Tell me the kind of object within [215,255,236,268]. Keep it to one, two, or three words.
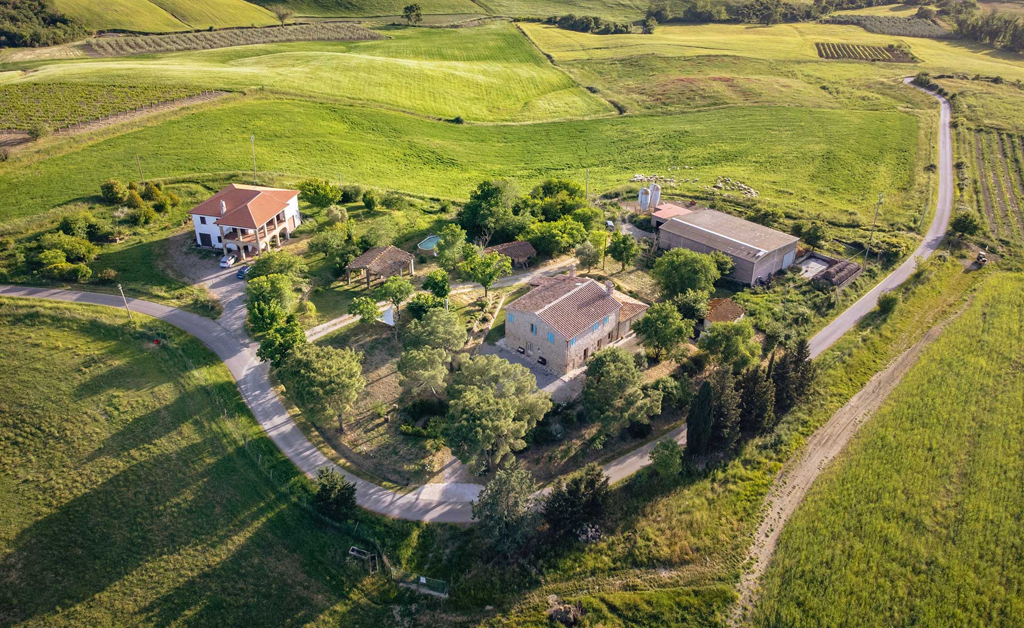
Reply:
vehicle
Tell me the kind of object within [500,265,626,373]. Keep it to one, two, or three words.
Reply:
house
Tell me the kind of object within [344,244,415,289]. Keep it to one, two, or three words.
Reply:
barn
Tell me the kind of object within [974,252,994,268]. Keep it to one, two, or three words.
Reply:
work vehicle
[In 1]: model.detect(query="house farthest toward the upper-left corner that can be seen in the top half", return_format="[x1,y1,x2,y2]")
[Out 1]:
[187,184,302,259]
